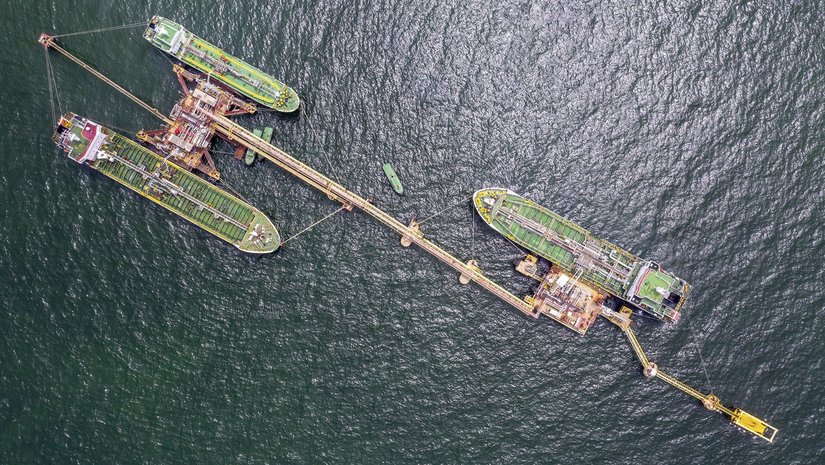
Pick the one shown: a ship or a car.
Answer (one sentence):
I can see a ship in this picture.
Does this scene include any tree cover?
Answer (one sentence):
No, no tree cover is visible.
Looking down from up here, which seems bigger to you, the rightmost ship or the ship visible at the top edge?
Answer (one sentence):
The rightmost ship is bigger than the ship visible at the top edge.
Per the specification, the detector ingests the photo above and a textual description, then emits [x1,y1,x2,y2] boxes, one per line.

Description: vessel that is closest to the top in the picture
[144,14,298,112]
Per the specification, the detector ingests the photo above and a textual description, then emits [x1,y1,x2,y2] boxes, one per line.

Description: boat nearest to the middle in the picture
[383,162,403,193]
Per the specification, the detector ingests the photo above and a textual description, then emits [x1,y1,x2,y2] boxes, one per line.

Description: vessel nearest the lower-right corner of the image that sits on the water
[474,189,693,319]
